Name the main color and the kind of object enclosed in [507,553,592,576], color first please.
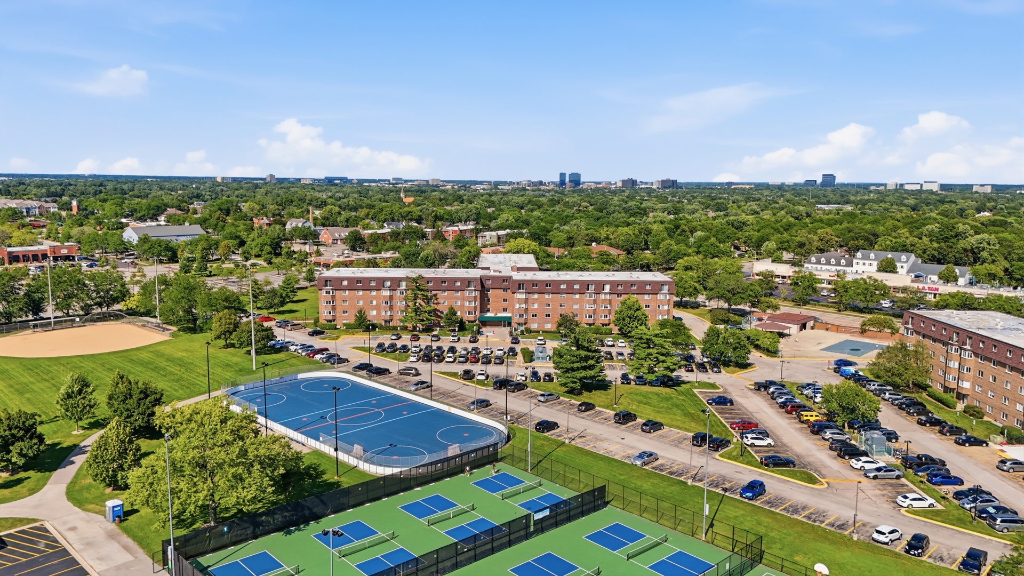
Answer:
blue sports court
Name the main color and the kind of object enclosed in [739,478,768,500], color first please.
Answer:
blue car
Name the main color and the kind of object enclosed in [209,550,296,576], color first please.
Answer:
blue sports court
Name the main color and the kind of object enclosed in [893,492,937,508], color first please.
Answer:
white car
